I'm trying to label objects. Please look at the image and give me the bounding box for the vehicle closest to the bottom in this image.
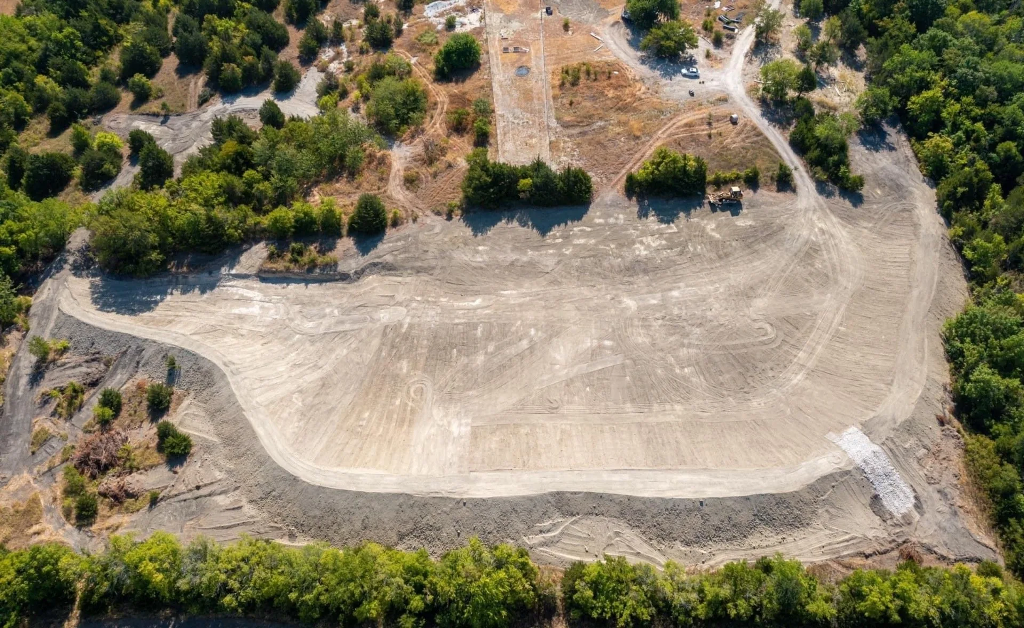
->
[708,187,739,208]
